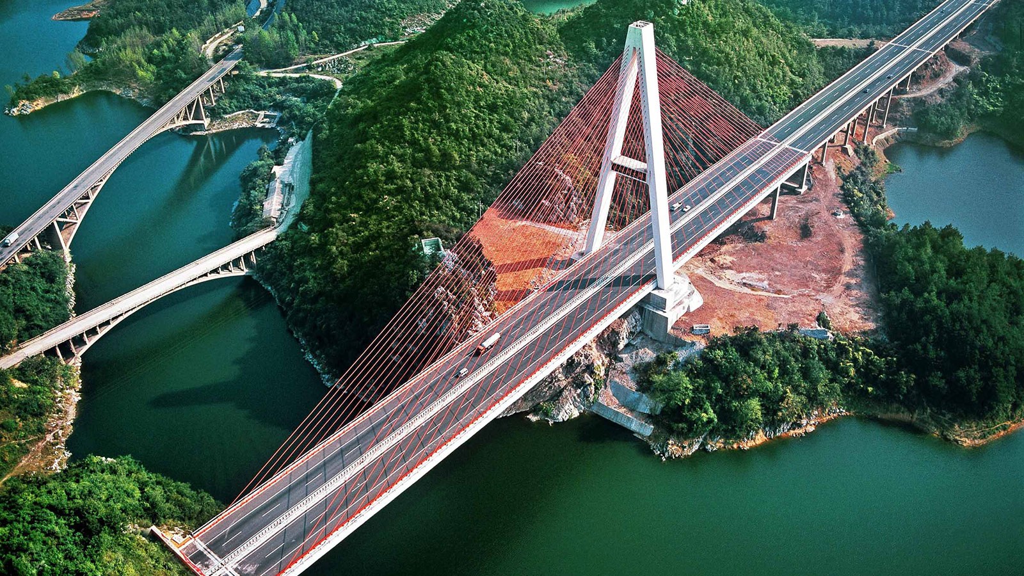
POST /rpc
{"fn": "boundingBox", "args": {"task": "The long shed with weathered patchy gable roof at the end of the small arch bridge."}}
[260,180,286,229]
